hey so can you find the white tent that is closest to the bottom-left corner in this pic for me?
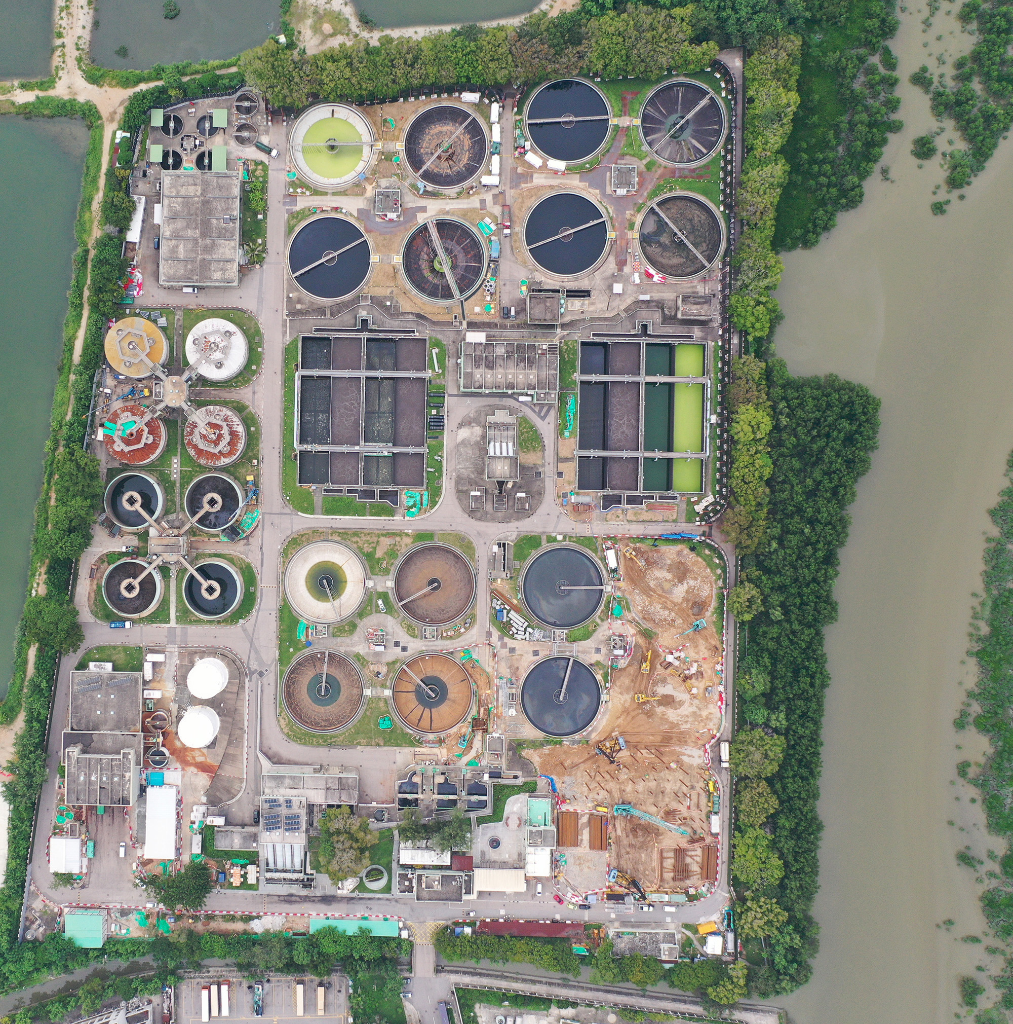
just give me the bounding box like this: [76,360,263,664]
[50,834,86,873]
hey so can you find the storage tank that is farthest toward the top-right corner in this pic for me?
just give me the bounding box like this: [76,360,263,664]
[632,78,728,171]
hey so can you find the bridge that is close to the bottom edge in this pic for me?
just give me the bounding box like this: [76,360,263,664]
[413,942,437,977]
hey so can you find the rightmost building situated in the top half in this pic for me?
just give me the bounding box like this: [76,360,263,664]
[678,295,713,321]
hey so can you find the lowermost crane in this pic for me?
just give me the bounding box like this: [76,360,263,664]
[609,865,652,906]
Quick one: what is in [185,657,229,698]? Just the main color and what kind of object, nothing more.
white storage tank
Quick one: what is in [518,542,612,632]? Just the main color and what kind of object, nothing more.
gray storage tank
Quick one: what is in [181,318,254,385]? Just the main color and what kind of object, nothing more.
white storage tank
